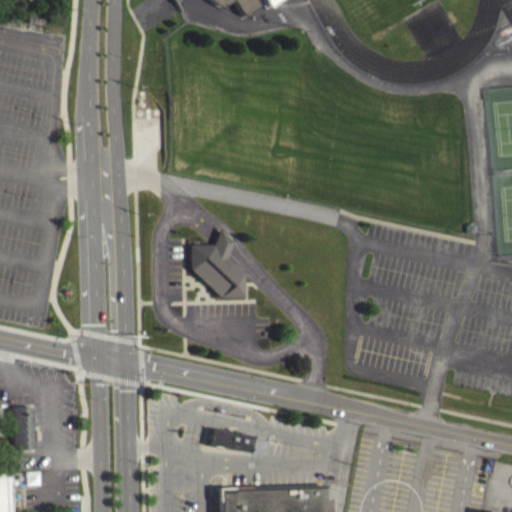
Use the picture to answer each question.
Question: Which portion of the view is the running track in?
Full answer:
The running track appears toward the top right of the photo.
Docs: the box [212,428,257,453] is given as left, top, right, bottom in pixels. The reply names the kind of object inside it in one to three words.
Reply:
building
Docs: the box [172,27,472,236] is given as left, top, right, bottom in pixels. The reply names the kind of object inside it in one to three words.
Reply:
sports field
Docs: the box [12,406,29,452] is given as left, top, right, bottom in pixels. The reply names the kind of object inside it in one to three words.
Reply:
building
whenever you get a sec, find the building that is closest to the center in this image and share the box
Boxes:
[192,230,246,299]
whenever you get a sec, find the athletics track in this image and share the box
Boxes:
[308,0,501,85]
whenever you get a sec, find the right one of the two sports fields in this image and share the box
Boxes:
[336,0,477,61]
